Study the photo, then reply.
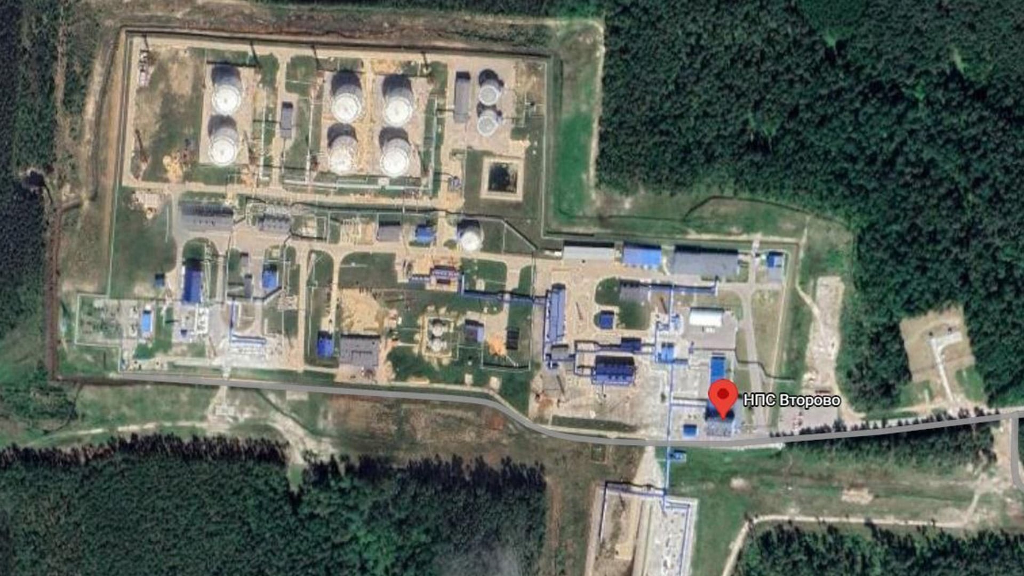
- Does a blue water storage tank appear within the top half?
No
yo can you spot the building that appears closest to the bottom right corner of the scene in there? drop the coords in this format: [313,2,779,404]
[706,413,734,437]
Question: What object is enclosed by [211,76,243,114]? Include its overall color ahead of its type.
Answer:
white storage tank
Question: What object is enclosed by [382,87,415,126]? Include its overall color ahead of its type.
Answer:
white storage tank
